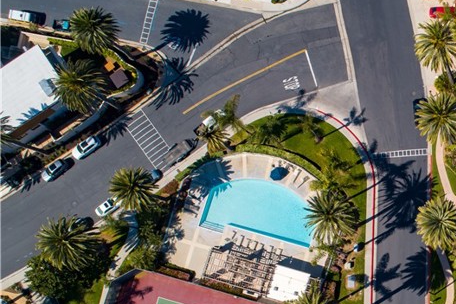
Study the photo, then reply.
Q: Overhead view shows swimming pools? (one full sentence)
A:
Yes, you can see a swimming pool in this photo.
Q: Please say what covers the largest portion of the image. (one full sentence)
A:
Most of the picture is covered by paved ground.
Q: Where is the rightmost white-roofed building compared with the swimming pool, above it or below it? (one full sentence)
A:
The position of the rightmost white-roofed building is below the swimming pool.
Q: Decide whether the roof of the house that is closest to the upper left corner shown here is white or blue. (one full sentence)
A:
In this view, the roof of the house that is closest to the upper left corner is white.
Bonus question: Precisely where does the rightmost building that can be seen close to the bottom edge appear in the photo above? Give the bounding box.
[270,265,313,301]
